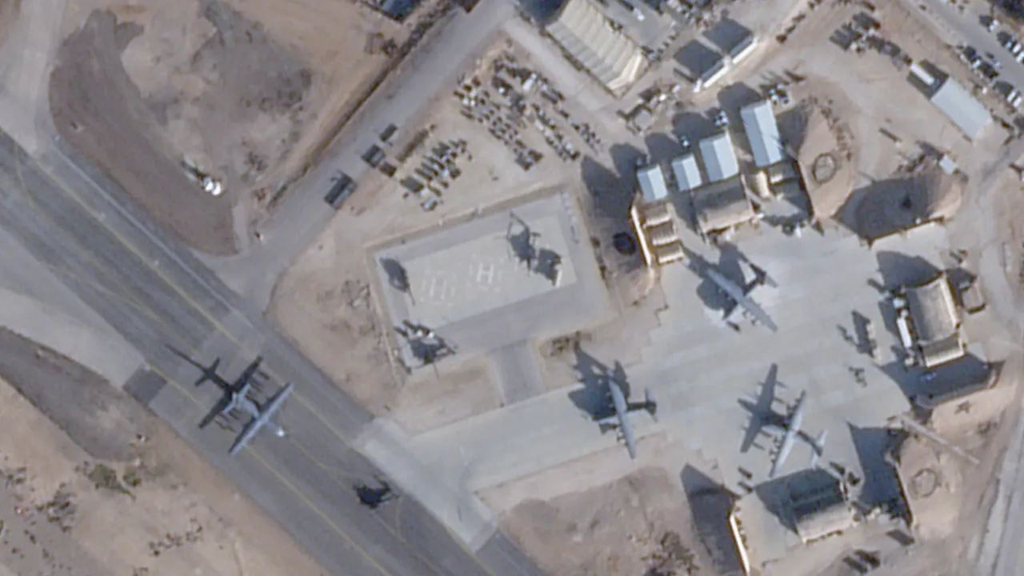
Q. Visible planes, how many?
4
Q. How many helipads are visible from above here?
one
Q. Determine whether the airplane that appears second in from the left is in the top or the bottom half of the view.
bottom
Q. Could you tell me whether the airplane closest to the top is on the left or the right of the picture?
right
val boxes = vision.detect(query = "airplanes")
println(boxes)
[705,257,781,331]
[596,368,664,459]
[221,379,293,455]
[763,389,831,477]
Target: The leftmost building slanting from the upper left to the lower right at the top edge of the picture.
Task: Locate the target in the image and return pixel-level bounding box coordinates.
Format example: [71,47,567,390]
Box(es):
[544,0,643,96]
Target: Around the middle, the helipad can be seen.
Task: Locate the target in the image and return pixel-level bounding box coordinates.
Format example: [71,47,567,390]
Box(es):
[376,192,613,405]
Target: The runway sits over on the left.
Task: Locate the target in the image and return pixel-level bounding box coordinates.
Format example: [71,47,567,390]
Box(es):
[0,131,548,576]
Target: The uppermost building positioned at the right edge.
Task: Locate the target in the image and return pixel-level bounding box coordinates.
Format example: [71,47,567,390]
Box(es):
[932,78,991,140]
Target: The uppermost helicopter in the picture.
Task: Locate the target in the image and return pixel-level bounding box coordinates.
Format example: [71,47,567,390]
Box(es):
[510,230,550,276]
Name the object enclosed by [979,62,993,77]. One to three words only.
vehicle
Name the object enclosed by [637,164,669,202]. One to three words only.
shed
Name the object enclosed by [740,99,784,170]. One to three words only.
shed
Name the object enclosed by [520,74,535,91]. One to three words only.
vehicle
